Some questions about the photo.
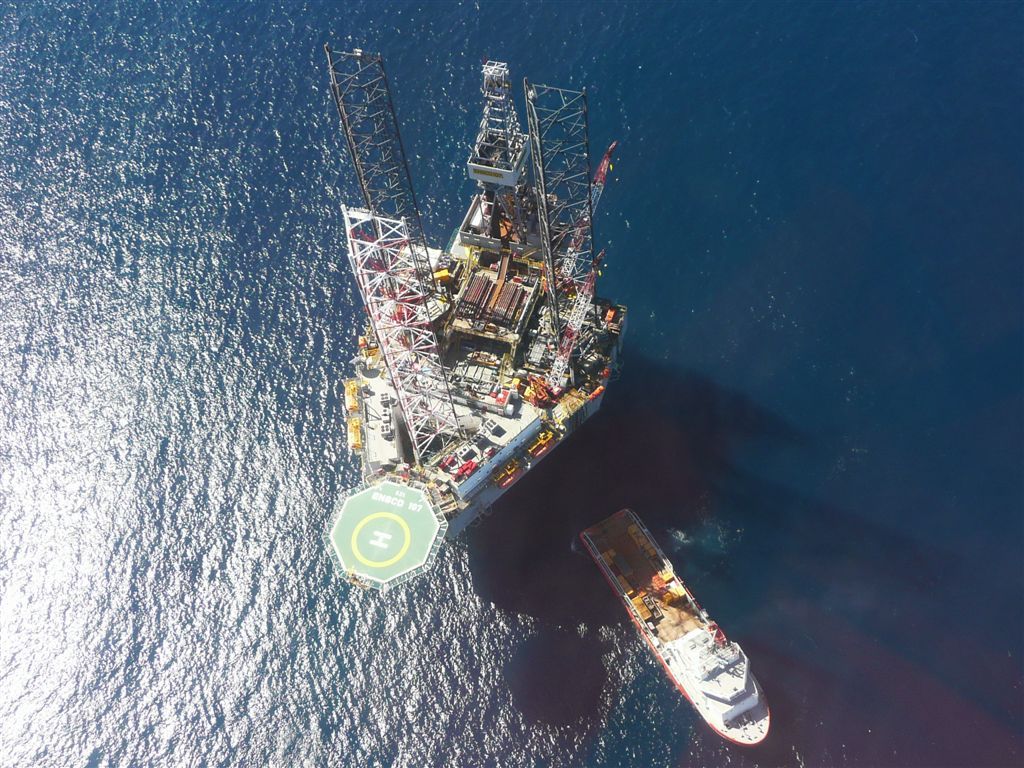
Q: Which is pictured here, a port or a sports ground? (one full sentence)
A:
The area seen from above is a port.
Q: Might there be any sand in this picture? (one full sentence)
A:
No, there is no sand in the image.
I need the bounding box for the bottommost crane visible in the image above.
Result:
[543,247,606,410]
